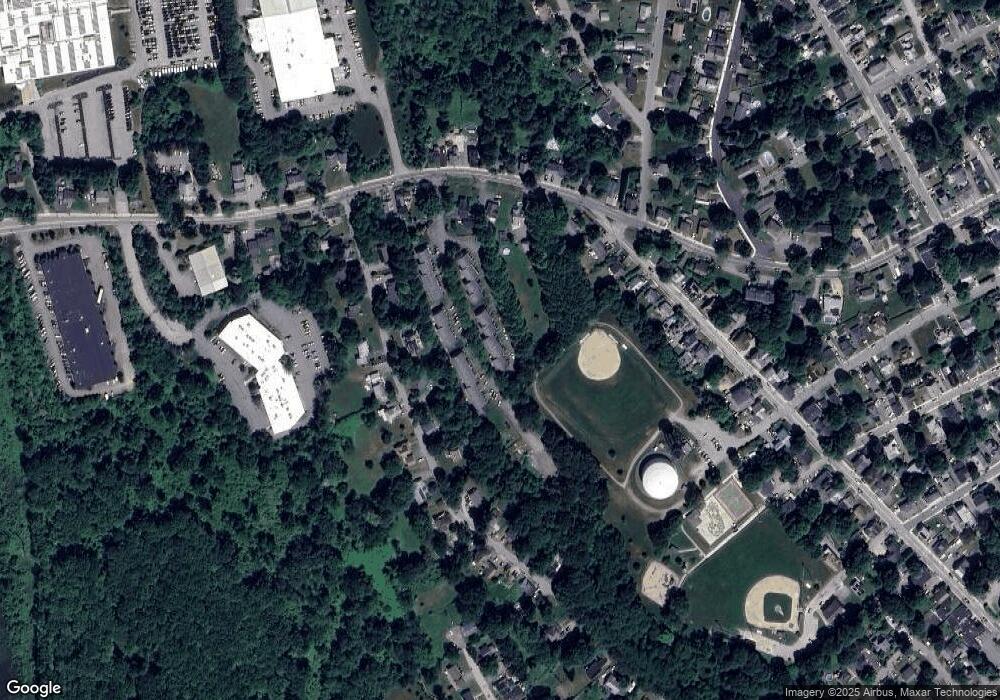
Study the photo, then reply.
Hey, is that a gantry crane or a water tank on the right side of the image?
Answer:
water tank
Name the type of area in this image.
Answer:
residential area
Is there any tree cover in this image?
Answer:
Yes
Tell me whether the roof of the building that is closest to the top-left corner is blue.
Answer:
No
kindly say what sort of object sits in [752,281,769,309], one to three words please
house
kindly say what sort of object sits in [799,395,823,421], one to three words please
house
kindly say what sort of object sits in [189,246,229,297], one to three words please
building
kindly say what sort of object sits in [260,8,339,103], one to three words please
building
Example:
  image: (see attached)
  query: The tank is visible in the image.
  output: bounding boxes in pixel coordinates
[634,455,687,508]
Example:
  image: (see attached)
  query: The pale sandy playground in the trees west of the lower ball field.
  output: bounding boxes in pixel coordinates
[643,562,682,606]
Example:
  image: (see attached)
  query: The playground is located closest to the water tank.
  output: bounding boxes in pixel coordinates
[697,496,737,545]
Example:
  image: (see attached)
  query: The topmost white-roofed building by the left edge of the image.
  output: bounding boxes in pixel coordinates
[0,0,116,85]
